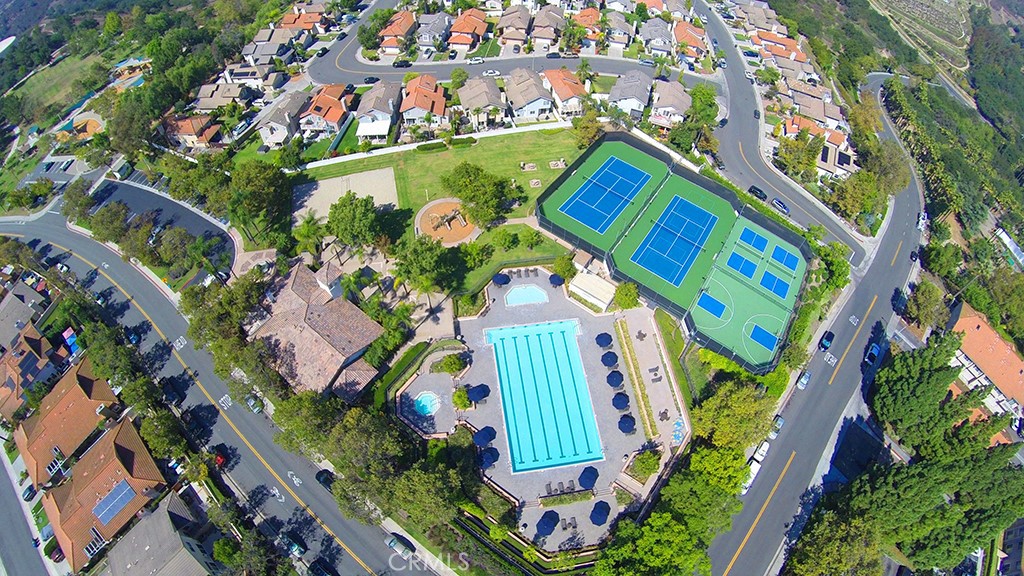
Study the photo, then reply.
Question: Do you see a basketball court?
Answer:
Yes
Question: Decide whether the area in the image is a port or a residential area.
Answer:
residential area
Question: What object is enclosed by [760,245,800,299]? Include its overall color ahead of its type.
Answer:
blue sports court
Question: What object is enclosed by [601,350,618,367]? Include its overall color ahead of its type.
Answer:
blue umbrella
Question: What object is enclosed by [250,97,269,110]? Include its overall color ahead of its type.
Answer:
white vehicle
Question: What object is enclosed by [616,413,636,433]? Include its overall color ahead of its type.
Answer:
blue umbrella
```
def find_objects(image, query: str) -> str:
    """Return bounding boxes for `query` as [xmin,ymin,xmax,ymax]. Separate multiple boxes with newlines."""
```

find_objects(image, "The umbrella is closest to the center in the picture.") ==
[493,272,509,287]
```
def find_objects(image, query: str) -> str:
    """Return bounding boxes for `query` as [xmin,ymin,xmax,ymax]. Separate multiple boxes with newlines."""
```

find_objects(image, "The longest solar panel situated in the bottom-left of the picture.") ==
[88,478,137,526]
